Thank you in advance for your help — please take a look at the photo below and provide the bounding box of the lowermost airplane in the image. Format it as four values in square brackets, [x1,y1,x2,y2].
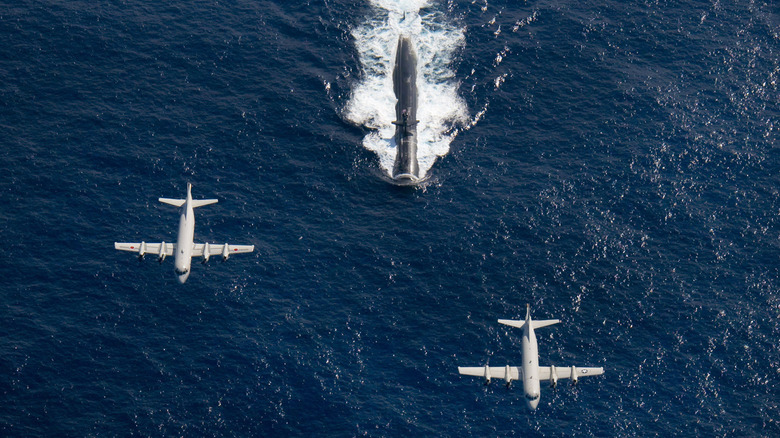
[459,304,604,411]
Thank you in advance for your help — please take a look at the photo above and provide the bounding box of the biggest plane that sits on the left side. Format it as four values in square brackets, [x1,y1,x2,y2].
[115,184,254,285]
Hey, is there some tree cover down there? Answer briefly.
No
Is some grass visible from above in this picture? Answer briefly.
No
